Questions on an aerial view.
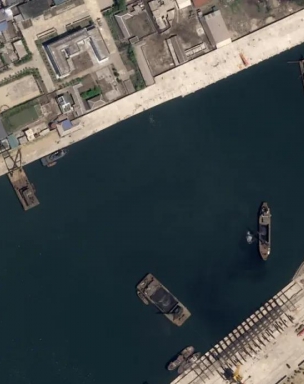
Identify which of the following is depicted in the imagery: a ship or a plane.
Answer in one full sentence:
This aerial view contains a ship.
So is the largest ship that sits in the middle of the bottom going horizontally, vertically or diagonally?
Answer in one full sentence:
The largest ship that sits in the middle of the bottom is laid out diagonally.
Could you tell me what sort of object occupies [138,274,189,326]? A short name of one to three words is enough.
ship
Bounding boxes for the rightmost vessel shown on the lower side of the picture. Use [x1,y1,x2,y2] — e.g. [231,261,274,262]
[258,202,270,261]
